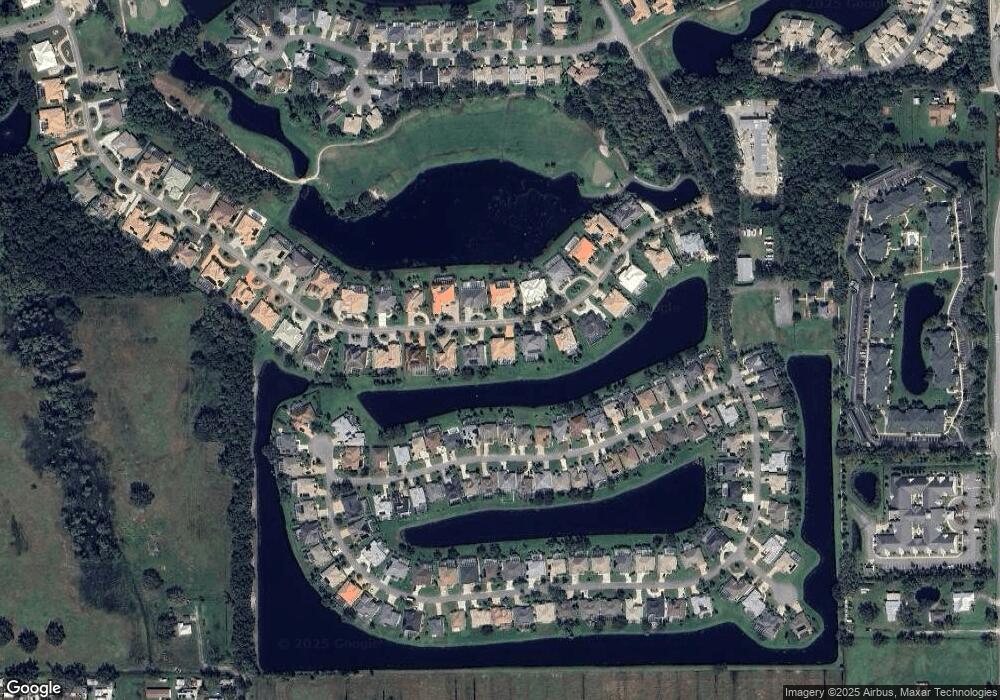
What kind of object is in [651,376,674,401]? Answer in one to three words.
house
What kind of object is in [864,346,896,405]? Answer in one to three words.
building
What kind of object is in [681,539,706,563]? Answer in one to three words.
house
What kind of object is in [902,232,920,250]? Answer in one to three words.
swimming pool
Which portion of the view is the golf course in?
top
